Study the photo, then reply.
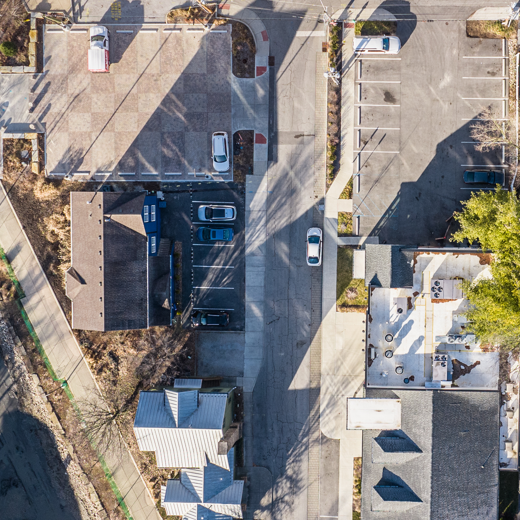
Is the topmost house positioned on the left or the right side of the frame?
left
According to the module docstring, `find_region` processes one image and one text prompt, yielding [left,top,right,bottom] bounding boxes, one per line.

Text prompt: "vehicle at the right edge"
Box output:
[463,168,504,186]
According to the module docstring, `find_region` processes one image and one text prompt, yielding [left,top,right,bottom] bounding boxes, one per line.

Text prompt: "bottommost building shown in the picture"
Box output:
[134,384,250,520]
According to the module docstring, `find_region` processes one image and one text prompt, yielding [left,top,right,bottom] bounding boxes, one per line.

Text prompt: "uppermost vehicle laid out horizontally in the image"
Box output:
[352,34,400,53]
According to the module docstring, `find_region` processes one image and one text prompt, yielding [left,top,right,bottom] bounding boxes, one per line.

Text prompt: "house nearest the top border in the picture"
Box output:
[66,191,179,332]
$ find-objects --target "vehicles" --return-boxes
[463,168,504,186]
[192,310,229,328]
[352,34,400,53]
[83,22,109,82]
[305,227,324,266]
[198,204,237,223]
[210,132,230,171]
[196,225,234,243]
